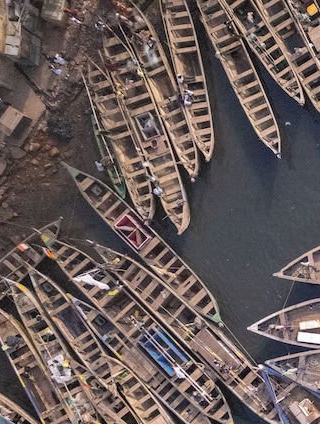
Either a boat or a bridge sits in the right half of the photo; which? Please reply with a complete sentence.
You can see a boat in the right half of the photo.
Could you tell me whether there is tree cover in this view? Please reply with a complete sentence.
No, there is no tree cover in the image.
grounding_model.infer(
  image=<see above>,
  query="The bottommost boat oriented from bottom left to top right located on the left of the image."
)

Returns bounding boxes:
[0,210,71,290]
